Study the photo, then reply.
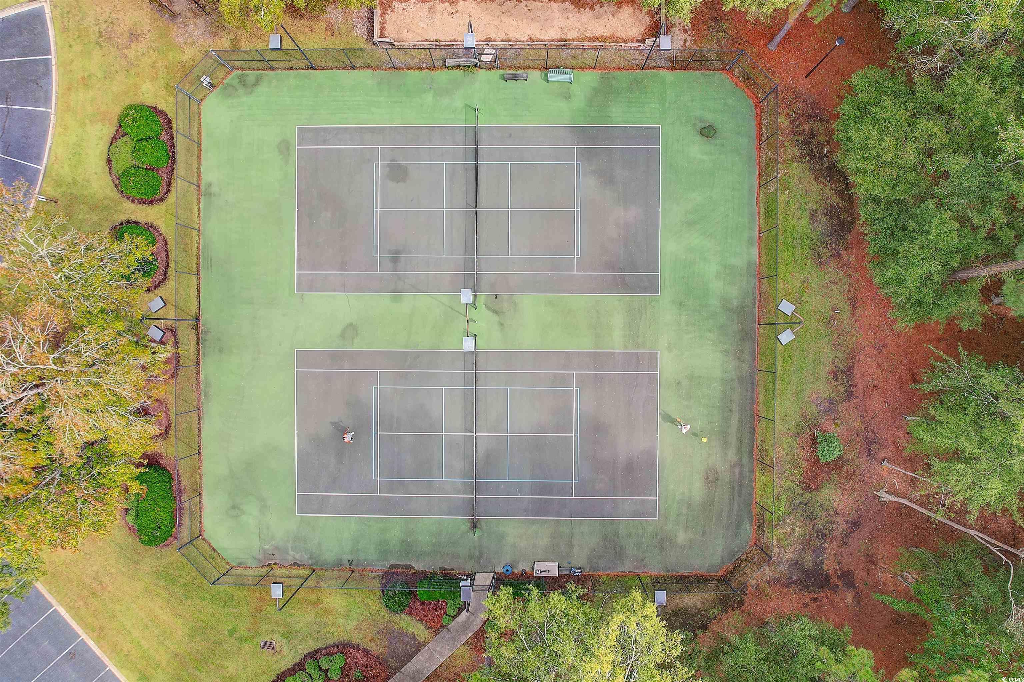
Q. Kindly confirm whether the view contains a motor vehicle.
No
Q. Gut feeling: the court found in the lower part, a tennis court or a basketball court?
tennis court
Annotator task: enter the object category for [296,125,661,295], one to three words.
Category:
tennis court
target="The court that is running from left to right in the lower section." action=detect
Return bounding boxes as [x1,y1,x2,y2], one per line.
[295,349,659,519]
